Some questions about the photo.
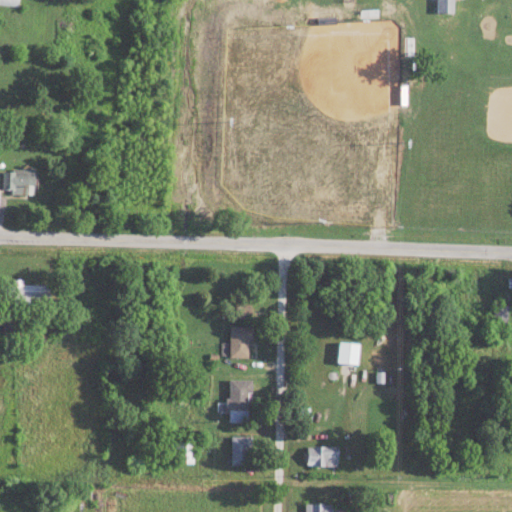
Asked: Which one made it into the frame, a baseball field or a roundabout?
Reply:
baseball field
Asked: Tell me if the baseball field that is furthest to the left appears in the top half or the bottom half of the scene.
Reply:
top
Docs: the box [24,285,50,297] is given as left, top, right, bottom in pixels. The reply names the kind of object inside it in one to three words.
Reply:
house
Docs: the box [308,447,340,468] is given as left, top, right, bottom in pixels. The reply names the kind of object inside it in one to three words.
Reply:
house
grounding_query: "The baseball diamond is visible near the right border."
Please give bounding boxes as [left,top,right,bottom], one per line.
[488,86,512,143]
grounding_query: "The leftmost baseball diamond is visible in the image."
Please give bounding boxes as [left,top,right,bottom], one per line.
[224,20,400,227]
